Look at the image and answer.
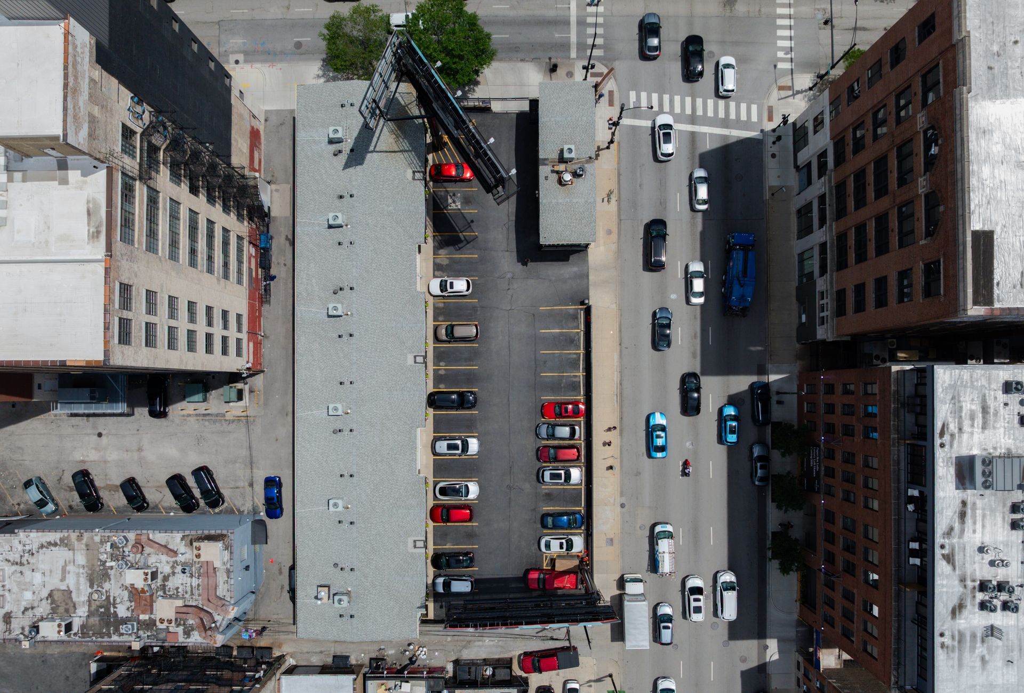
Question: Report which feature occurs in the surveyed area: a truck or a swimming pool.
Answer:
truck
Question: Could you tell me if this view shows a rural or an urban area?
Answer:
urban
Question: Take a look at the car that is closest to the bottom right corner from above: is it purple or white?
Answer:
white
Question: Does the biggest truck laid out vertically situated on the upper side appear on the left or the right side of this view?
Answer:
right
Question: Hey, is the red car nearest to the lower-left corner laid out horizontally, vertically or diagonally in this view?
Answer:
horizontally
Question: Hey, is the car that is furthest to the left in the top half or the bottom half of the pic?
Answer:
bottom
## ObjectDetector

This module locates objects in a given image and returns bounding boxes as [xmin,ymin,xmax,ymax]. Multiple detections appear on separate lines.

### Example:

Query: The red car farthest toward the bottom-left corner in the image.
[430,504,474,525]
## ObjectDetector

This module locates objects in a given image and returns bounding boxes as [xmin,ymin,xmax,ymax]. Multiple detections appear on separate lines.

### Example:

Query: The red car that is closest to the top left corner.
[429,162,473,184]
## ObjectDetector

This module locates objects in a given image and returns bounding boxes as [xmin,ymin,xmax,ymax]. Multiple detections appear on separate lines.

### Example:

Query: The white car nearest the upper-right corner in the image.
[715,57,737,99]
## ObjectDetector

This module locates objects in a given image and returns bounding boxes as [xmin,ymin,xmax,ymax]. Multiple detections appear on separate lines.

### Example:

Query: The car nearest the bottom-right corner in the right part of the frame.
[715,571,739,620]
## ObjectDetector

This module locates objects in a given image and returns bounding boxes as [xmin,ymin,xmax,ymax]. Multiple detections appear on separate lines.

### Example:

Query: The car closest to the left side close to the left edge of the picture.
[24,474,60,514]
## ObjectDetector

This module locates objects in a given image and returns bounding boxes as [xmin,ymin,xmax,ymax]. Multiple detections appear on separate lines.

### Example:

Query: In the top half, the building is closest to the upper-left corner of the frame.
[0,0,263,401]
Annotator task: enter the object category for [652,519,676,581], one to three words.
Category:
vehicle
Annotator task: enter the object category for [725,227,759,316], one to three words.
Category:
truck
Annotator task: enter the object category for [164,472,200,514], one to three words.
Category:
car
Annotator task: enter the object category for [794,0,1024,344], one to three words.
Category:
building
